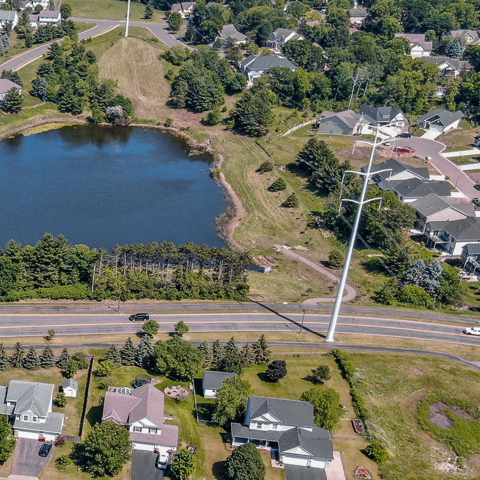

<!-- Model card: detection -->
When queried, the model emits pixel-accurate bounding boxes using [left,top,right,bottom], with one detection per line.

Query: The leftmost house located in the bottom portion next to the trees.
[0,373,66,438]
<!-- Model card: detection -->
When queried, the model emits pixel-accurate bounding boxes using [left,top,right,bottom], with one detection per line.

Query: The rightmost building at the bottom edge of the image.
[229,394,336,470]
